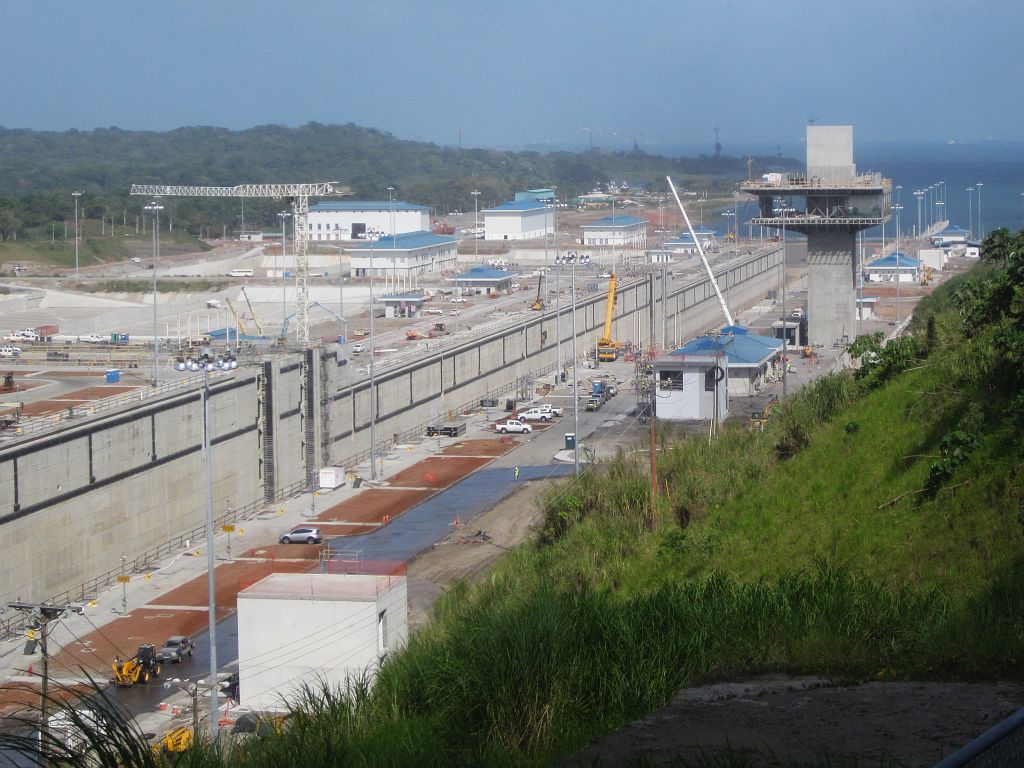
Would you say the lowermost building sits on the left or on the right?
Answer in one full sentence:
The lowermost building appears in the left half of the scene.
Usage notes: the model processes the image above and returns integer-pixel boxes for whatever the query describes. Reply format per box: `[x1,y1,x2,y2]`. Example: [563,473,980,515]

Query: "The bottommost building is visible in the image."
[222,576,408,715]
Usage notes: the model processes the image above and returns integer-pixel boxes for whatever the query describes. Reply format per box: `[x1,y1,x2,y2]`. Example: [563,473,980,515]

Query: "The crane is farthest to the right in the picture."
[666,175,732,331]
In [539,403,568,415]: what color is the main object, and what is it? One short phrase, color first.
white vehicle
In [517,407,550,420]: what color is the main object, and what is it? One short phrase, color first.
white vehicle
